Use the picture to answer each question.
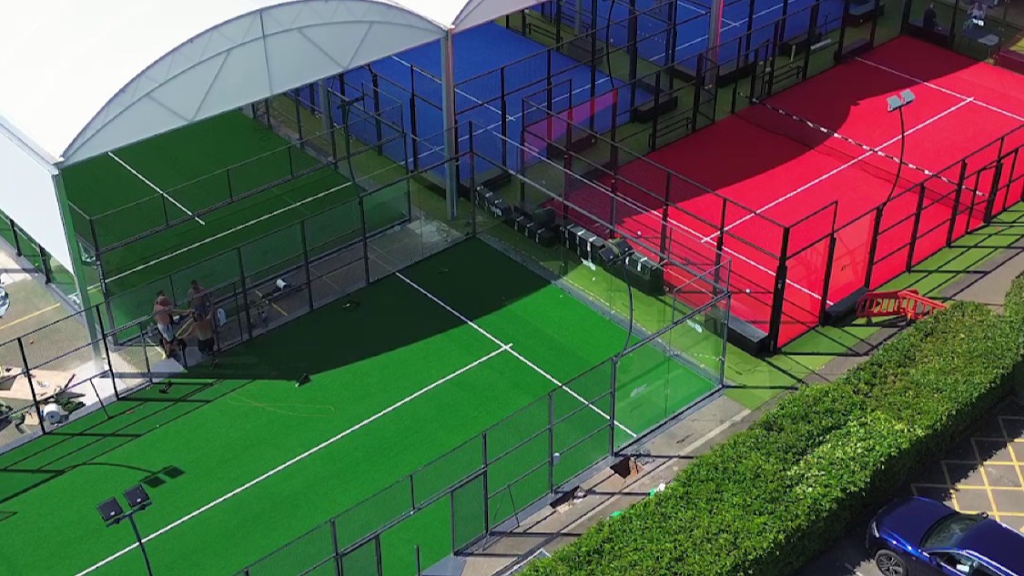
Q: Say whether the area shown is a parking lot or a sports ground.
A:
sports ground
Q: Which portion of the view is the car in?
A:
bottom right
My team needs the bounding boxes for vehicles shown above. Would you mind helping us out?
[868,495,1024,576]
